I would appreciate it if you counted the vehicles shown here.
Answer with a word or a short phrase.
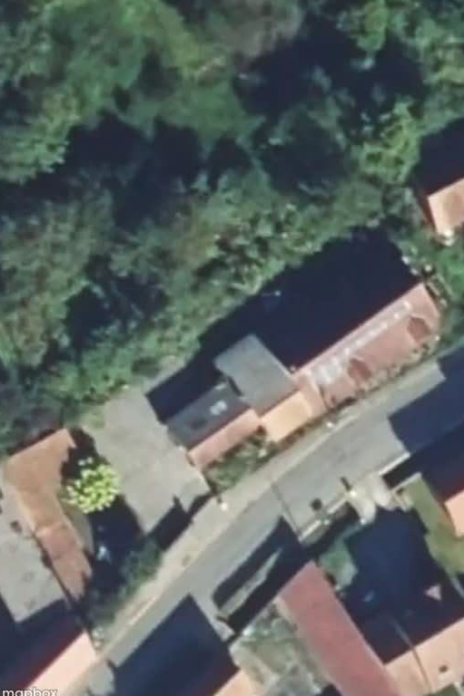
0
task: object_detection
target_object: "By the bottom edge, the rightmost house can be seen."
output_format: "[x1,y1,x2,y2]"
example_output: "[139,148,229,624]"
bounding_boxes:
[365,579,464,696]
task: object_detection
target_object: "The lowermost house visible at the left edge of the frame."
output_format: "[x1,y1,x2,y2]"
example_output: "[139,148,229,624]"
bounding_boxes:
[0,600,99,696]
